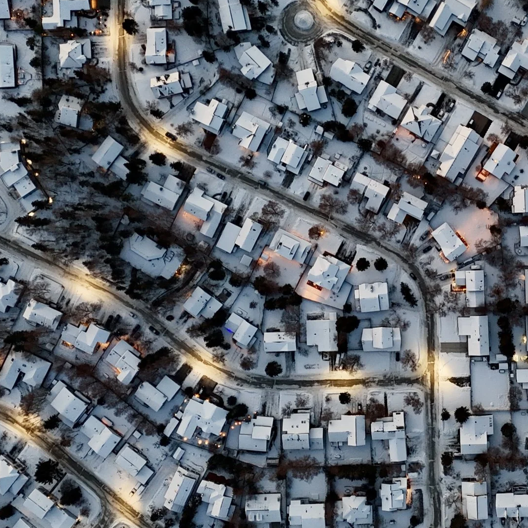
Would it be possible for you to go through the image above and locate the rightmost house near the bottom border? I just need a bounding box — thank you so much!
[497,491,528,514]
